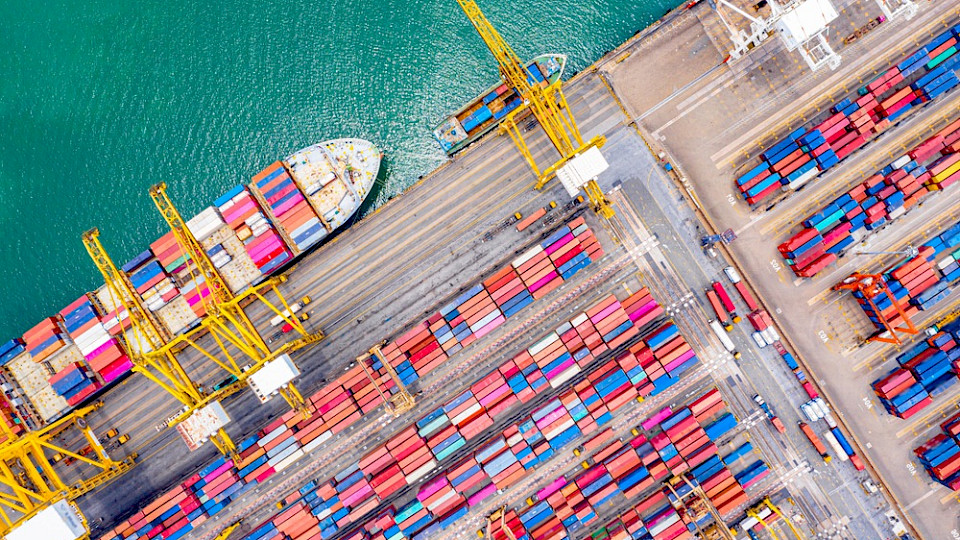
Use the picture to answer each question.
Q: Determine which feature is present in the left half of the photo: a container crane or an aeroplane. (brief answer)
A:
container crane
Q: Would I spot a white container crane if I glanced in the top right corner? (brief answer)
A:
Yes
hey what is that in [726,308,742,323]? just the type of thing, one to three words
vehicle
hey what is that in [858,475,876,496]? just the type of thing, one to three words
work vehicle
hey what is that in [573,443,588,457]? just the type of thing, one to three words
vehicle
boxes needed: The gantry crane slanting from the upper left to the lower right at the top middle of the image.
[457,0,618,217]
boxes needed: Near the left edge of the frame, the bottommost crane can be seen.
[0,404,135,540]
